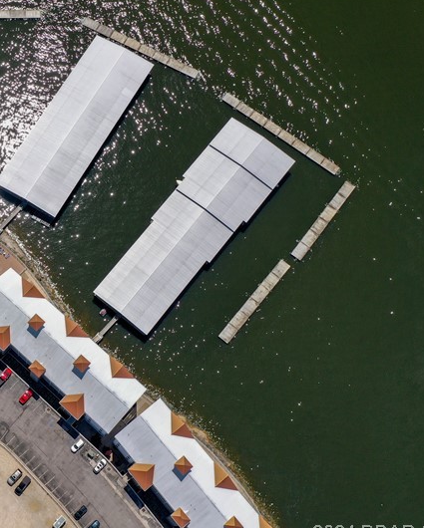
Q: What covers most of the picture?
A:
water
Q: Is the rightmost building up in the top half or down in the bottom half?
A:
bottom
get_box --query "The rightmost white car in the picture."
[93,459,106,474]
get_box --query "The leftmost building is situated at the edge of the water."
[0,269,146,435]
